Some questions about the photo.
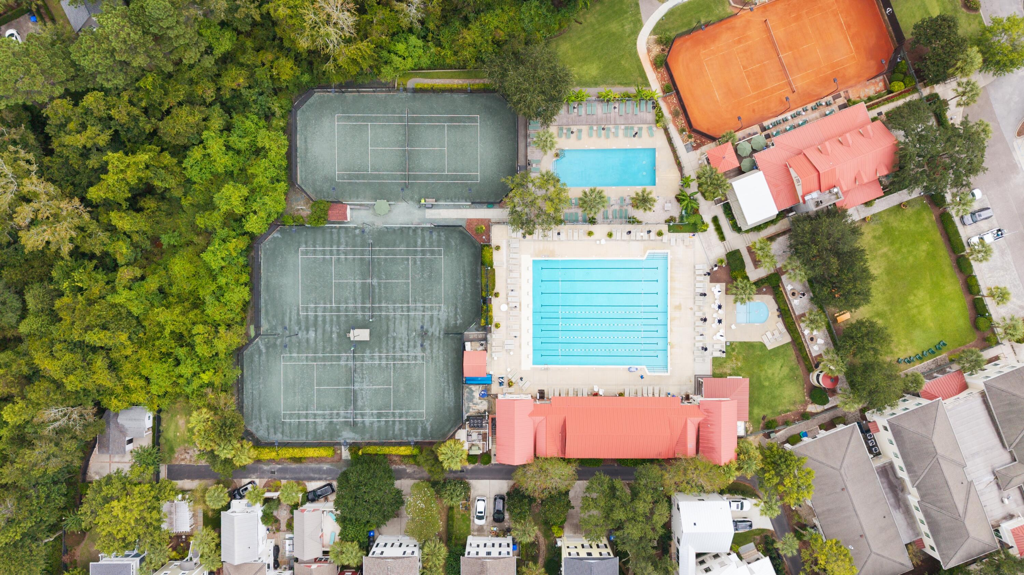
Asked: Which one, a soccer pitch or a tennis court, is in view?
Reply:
tennis court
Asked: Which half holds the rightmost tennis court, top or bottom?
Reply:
top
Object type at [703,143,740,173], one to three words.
gazebo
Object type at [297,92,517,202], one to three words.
tennis court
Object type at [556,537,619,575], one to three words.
house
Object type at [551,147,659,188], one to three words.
swimming pool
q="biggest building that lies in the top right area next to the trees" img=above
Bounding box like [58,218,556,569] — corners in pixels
[753,101,901,213]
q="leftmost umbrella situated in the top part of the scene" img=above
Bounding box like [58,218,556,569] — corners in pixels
[374,199,390,216]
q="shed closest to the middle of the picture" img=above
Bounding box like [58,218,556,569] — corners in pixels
[464,351,486,377]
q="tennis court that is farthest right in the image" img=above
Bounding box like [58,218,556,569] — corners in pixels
[670,0,894,135]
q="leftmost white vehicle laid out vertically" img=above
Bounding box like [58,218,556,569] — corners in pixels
[473,496,487,525]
